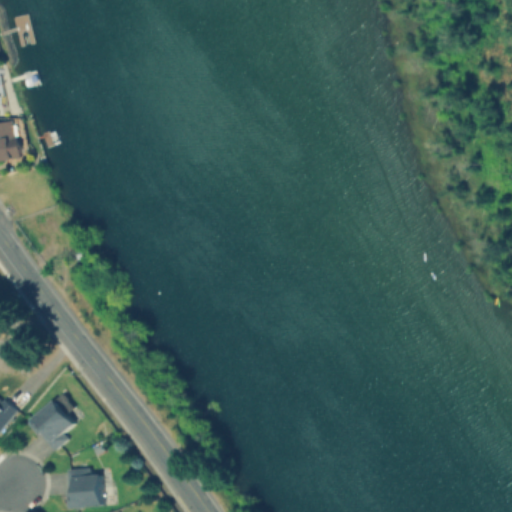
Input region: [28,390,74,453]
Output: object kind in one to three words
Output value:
house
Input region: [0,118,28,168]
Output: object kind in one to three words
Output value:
house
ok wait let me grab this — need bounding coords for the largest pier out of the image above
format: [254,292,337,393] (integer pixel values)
[8,14,36,47]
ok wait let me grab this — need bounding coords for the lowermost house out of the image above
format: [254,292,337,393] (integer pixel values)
[66,468,107,510]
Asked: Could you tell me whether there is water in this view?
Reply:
Yes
